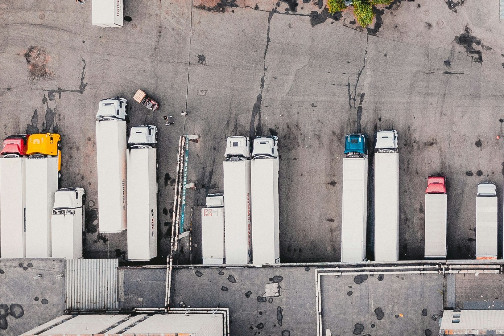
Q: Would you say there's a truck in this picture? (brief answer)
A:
Yes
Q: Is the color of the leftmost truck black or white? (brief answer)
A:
white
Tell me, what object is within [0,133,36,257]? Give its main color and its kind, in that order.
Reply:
white truck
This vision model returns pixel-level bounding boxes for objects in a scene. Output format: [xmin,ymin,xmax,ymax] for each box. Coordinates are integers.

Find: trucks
[224,135,254,259]
[474,181,499,256]
[250,135,282,259]
[342,132,369,259]
[92,0,129,27]
[374,129,403,259]
[201,191,225,259]
[51,185,89,259]
[95,98,131,234]
[0,133,36,257]
[25,132,64,257]
[126,124,162,259]
[424,174,449,256]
